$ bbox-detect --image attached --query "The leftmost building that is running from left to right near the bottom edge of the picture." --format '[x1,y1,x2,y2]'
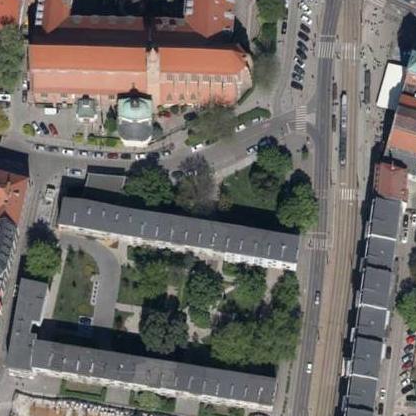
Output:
[31,338,277,413]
